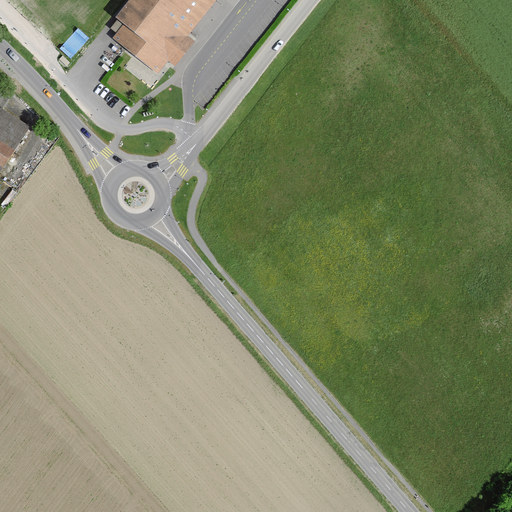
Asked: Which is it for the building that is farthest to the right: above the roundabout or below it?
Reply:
above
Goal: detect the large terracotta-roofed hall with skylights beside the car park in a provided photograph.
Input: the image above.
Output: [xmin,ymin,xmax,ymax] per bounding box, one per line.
[111,0,217,74]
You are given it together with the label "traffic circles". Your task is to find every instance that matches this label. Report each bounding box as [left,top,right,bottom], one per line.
[101,160,171,230]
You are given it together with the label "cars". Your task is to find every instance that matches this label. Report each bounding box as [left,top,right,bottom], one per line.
[95,84,104,94]
[274,40,283,50]
[42,89,52,98]
[80,128,91,138]
[105,92,114,102]
[100,88,109,98]
[120,105,129,116]
[109,96,118,107]
[147,162,159,168]
[112,154,122,164]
